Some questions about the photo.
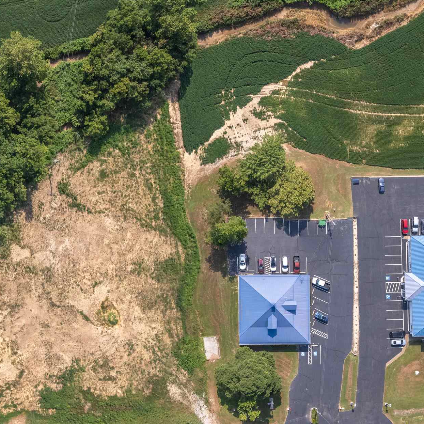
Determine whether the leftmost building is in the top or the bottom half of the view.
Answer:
bottom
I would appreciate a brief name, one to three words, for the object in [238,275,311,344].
building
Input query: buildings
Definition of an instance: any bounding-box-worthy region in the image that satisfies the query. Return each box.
[238,275,311,344]
[401,235,424,341]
